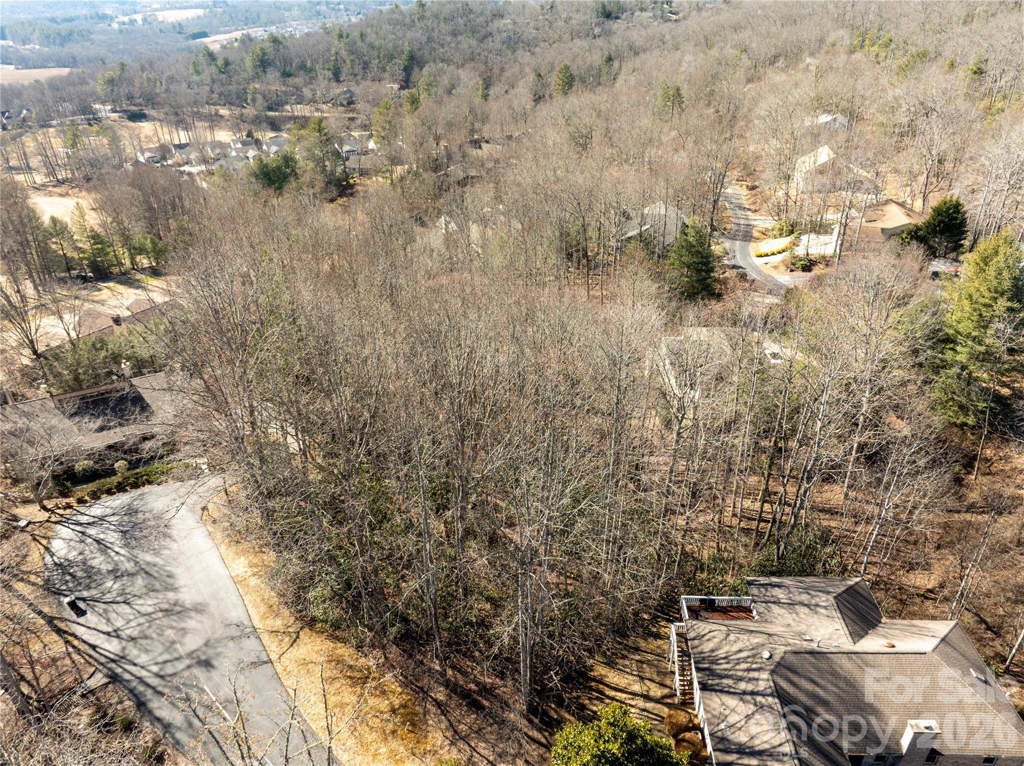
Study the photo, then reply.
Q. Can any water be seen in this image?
No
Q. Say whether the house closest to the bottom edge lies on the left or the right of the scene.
right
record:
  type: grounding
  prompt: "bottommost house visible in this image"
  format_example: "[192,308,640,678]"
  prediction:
[655,575,1024,766]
